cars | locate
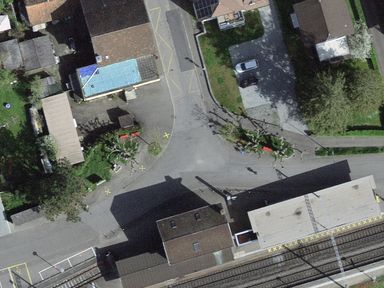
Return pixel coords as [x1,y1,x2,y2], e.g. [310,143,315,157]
[239,75,260,88]
[236,58,260,72]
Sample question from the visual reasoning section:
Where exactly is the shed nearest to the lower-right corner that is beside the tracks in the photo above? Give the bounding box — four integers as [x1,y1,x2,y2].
[248,176,381,248]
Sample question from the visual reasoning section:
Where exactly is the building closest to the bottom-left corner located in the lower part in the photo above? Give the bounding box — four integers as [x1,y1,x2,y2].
[11,202,56,225]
